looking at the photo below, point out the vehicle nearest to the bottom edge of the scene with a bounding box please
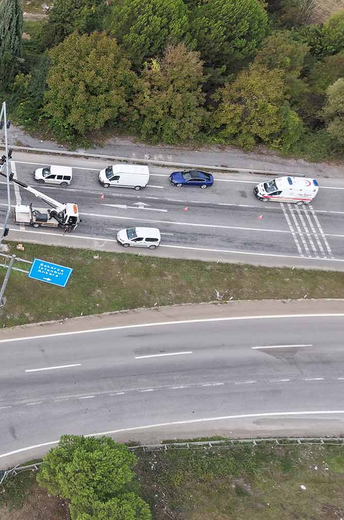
[116,225,163,249]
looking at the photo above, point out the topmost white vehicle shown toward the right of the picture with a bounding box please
[253,176,319,206]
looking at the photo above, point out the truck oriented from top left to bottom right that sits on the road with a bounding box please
[0,155,79,236]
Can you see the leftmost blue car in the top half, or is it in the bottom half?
top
